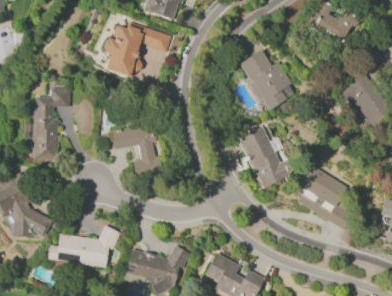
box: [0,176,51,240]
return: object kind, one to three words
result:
house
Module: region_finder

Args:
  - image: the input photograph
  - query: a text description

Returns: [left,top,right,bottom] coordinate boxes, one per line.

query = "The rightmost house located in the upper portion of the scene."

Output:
[342,74,390,126]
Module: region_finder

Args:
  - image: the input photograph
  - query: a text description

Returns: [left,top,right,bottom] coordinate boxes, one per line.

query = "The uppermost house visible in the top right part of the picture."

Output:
[314,1,358,38]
